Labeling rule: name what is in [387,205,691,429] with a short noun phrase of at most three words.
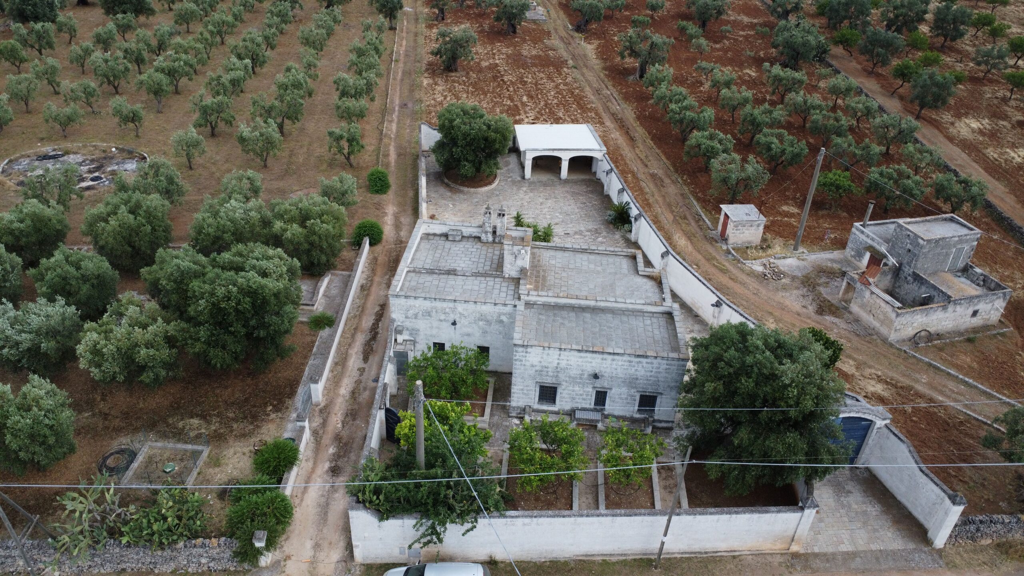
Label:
house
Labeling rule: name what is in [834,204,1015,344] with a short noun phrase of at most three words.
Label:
building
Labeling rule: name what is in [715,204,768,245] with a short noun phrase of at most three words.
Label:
shed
